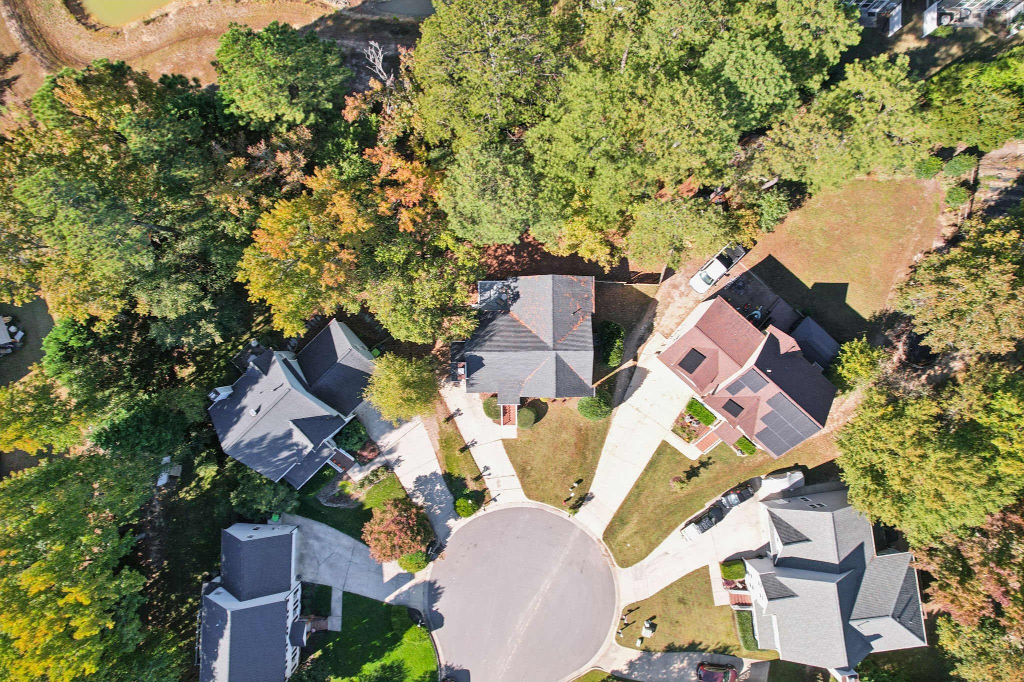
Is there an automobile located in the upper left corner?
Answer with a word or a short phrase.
No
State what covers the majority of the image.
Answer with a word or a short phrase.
trees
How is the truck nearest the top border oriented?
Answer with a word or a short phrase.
diagonally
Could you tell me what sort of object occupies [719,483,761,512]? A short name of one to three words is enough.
car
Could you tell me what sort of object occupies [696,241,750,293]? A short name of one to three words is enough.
truck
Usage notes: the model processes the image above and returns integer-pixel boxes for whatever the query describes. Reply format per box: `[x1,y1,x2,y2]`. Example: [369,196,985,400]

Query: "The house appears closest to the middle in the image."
[451,274,597,427]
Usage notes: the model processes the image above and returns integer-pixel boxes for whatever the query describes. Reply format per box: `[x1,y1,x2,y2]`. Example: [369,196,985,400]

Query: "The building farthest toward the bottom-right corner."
[729,495,927,682]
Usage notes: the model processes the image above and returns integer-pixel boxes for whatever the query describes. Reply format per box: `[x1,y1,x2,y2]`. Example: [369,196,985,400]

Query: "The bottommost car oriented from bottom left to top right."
[683,506,728,545]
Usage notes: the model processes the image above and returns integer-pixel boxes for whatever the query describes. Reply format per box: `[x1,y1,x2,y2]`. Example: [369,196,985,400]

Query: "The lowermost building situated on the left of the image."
[198,525,328,682]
